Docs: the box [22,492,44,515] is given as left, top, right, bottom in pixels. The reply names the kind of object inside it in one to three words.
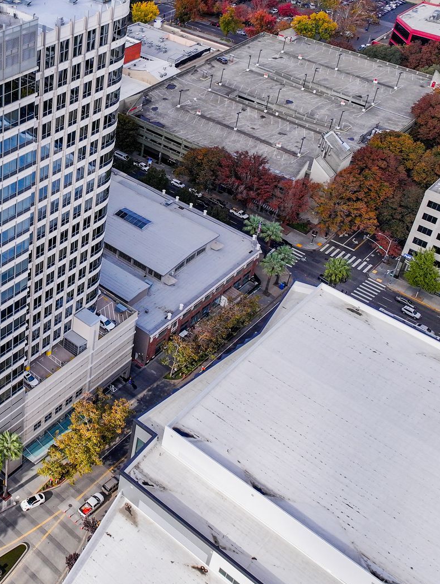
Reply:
car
